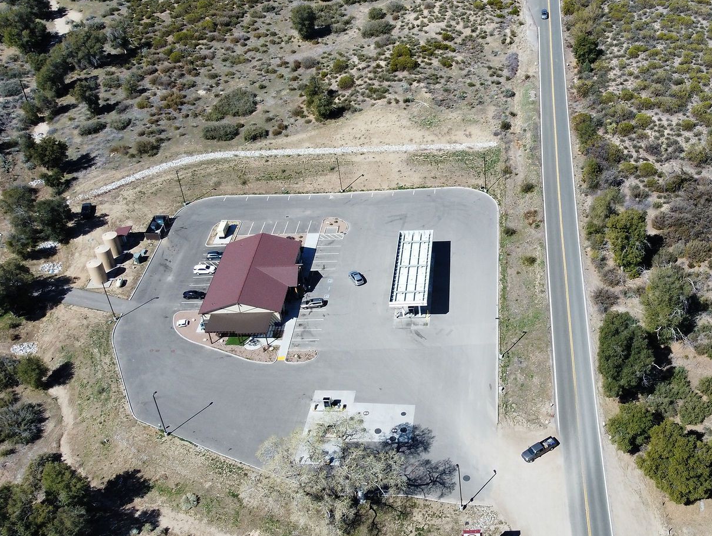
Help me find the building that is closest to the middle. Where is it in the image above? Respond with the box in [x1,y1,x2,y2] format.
[197,233,304,344]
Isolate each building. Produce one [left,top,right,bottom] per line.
[197,233,304,344]
[116,225,134,244]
